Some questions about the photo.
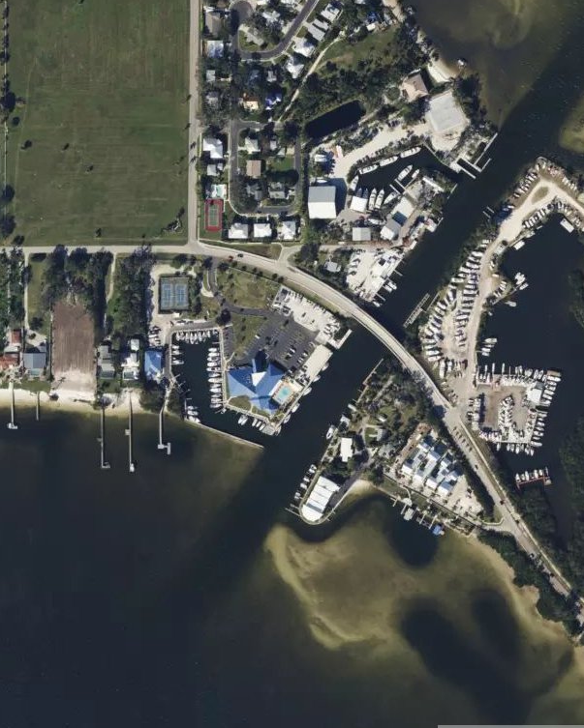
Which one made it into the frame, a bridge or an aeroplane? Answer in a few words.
bridge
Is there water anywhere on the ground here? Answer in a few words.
Yes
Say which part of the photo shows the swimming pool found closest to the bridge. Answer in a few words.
center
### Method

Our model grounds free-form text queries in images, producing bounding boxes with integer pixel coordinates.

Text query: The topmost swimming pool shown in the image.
[212,184,227,197]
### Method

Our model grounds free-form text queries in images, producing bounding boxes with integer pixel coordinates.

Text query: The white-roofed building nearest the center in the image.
[304,347,331,380]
